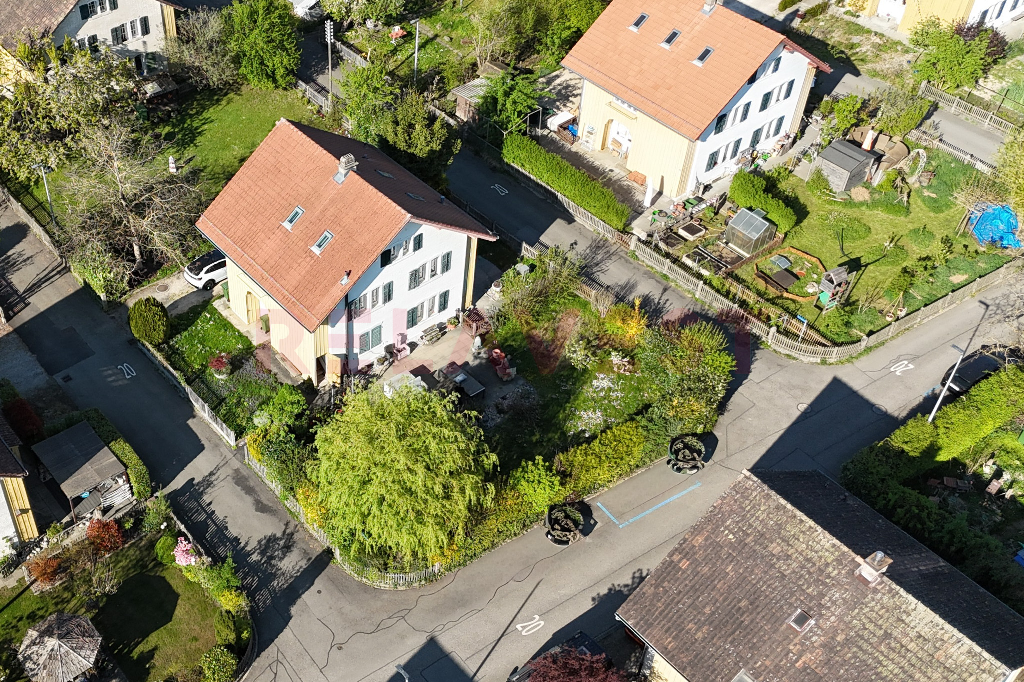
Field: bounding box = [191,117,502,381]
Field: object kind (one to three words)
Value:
house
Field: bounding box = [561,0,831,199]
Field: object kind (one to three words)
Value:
house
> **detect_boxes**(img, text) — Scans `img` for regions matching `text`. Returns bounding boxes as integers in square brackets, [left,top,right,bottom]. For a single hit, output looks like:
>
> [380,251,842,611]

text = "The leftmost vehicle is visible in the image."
[186,250,224,289]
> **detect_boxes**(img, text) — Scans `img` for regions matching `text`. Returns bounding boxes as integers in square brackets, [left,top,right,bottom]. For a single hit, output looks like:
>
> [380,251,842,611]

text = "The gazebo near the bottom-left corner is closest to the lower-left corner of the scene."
[1,607,108,682]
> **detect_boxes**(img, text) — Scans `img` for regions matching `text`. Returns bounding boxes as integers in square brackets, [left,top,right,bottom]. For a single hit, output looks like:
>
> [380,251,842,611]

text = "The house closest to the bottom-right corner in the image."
[617,465,1024,682]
